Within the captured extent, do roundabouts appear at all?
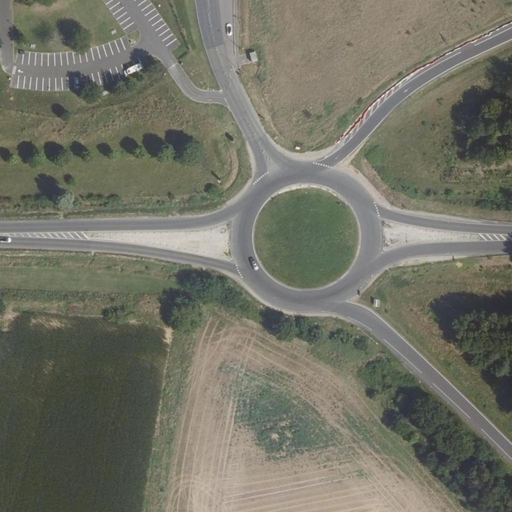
Yes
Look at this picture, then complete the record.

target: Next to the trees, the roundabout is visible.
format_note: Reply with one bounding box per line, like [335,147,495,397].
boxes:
[214,162,382,314]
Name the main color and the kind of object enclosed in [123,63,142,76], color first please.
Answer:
white vehicle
